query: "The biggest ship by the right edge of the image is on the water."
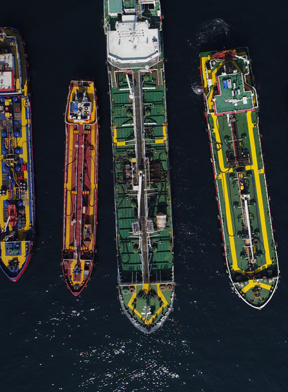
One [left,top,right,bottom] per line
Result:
[198,47,279,310]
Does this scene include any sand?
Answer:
No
